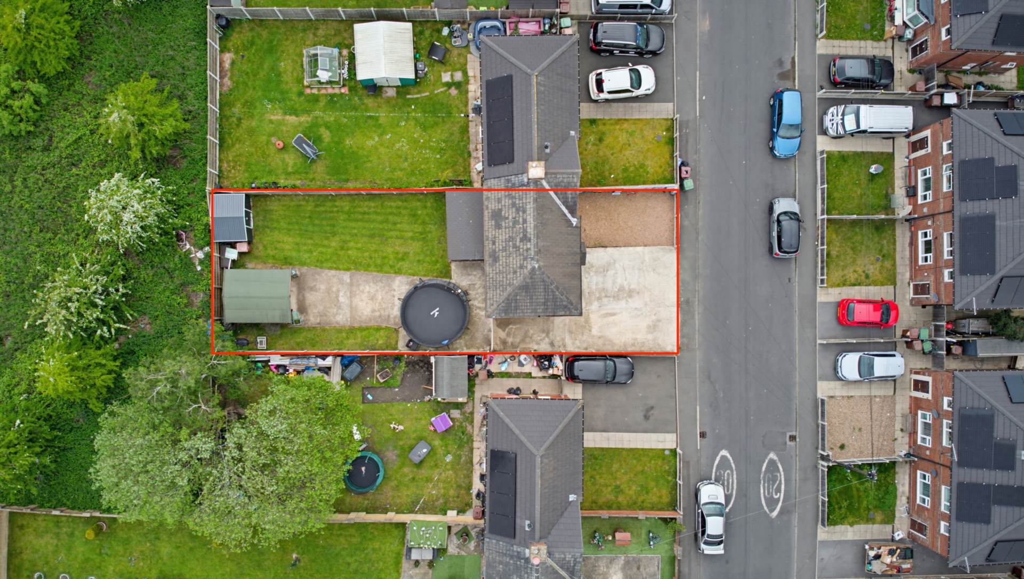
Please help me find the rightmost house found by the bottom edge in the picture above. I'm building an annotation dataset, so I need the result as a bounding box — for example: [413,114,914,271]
[899,367,1024,571]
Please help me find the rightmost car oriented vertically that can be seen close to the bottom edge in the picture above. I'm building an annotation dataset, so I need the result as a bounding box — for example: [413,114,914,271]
[694,477,730,553]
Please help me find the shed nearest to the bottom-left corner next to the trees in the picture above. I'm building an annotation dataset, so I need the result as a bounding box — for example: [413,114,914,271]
[222,268,299,323]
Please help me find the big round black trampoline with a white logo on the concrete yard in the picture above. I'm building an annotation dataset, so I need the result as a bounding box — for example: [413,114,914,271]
[401,280,470,348]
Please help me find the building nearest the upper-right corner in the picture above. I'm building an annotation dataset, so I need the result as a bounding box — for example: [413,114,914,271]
[902,0,1024,75]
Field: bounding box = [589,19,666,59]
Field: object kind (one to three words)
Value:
car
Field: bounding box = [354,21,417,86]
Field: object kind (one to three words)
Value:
shed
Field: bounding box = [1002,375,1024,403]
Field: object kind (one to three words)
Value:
solar panel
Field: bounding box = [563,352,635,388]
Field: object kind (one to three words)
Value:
car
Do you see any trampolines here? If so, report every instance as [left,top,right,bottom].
[401,280,470,348]
[345,450,385,494]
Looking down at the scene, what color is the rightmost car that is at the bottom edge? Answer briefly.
white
